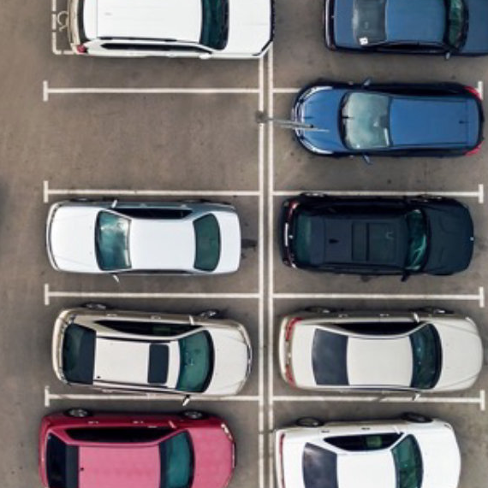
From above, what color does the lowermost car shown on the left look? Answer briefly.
pink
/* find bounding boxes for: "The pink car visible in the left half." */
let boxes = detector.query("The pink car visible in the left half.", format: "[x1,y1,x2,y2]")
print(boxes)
[42,407,236,488]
